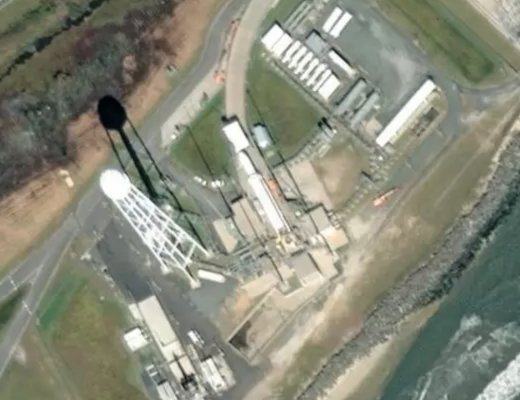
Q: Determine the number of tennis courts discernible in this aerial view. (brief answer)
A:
0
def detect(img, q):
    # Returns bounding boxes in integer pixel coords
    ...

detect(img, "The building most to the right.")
[376,80,440,150]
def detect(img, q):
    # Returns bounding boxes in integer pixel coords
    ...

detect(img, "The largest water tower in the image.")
[98,167,214,288]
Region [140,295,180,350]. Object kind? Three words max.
building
